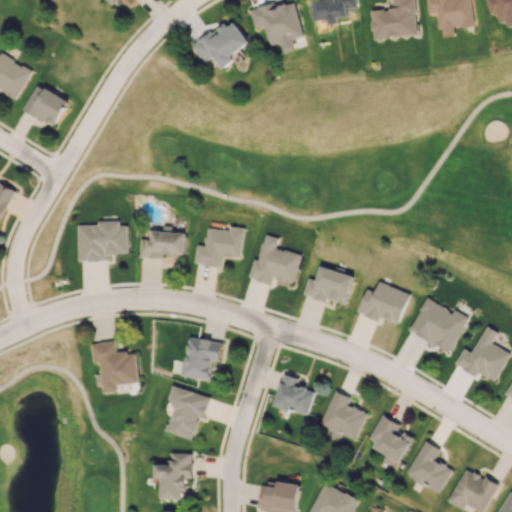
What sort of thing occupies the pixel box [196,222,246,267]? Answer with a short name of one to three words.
house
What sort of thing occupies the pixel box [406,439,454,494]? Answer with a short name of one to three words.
house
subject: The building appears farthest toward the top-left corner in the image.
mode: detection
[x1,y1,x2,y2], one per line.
[0,49,32,99]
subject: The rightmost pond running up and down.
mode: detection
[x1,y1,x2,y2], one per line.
[9,392,61,512]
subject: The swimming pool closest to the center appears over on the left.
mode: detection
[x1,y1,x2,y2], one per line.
[134,196,187,232]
